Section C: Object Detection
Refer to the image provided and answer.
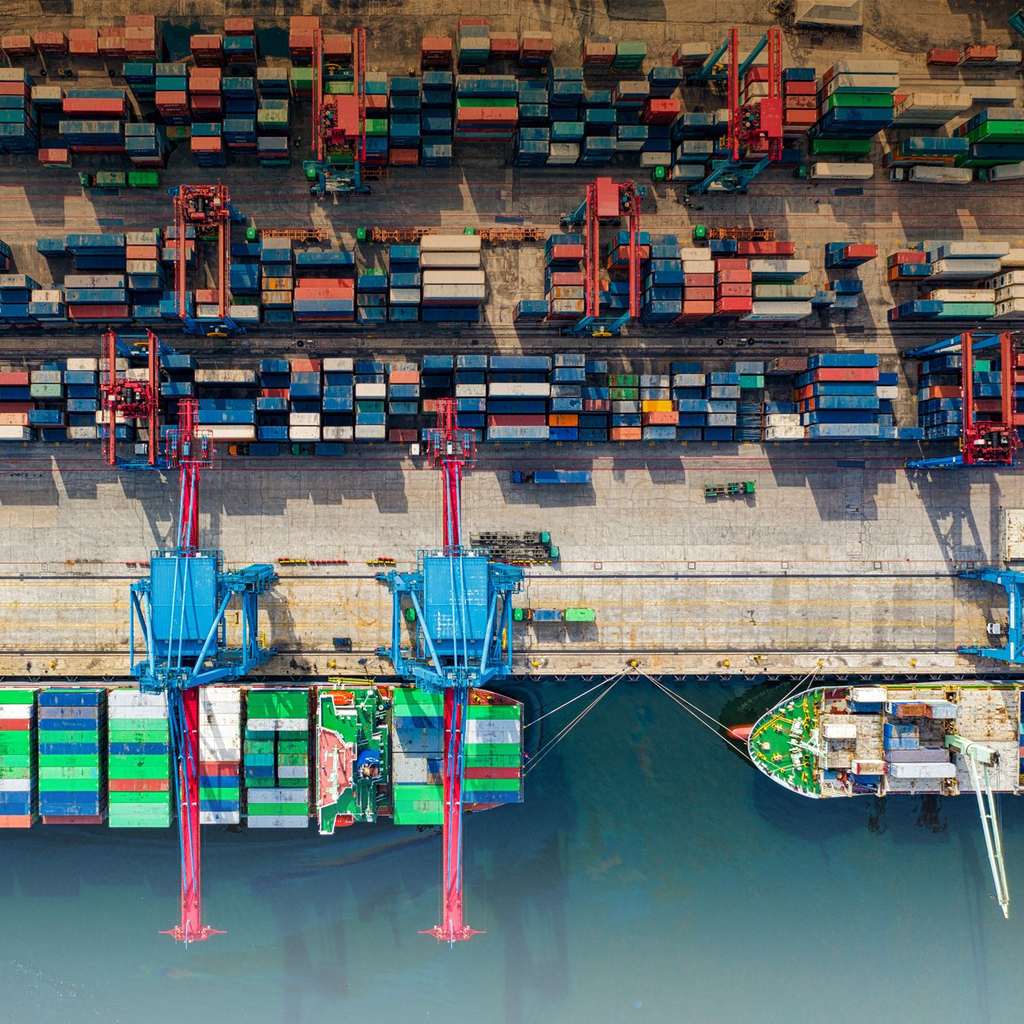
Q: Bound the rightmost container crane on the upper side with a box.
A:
[905,325,1020,472]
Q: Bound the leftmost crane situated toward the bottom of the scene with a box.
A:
[127,398,279,960]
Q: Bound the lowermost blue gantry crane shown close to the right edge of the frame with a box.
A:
[959,573,1024,667]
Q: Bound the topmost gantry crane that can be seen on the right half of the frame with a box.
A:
[687,20,783,194]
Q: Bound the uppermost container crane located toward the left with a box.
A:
[305,20,372,194]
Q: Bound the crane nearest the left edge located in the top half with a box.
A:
[99,325,181,472]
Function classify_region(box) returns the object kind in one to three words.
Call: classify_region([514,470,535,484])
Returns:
vehicle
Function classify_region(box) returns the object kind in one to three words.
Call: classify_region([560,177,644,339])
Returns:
container crane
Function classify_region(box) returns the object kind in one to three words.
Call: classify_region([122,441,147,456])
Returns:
vehicle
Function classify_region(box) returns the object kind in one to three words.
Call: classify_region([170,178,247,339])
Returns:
container crane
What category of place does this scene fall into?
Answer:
port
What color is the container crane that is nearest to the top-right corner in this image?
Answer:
red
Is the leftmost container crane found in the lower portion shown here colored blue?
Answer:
Yes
